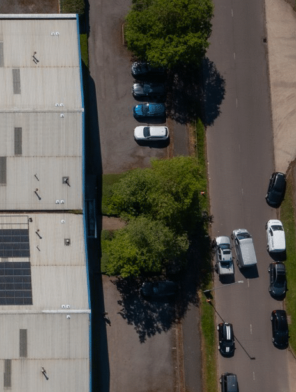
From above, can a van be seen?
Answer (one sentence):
Yes, the picture does show a van.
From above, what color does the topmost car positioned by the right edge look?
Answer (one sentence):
The topmost car positioned by the right edge is black.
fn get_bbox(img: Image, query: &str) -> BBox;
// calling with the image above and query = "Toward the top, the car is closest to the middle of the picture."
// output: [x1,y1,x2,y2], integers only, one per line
[132,125,170,144]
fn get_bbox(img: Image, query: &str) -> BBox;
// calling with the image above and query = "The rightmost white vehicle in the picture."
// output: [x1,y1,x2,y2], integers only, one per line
[262,219,289,255]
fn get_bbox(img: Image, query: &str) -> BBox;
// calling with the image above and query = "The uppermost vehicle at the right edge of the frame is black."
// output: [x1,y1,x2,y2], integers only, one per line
[262,170,288,207]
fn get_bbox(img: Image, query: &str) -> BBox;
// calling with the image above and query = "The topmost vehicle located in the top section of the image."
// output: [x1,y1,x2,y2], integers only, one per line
[129,61,168,80]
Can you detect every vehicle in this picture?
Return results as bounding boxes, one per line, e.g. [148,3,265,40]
[265,263,288,298]
[217,374,238,392]
[266,312,290,350]
[262,219,289,255]
[132,125,170,144]
[212,237,236,277]
[262,170,288,207]
[132,102,167,120]
[129,61,168,80]
[131,82,169,99]
[215,325,235,357]
[230,229,261,271]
